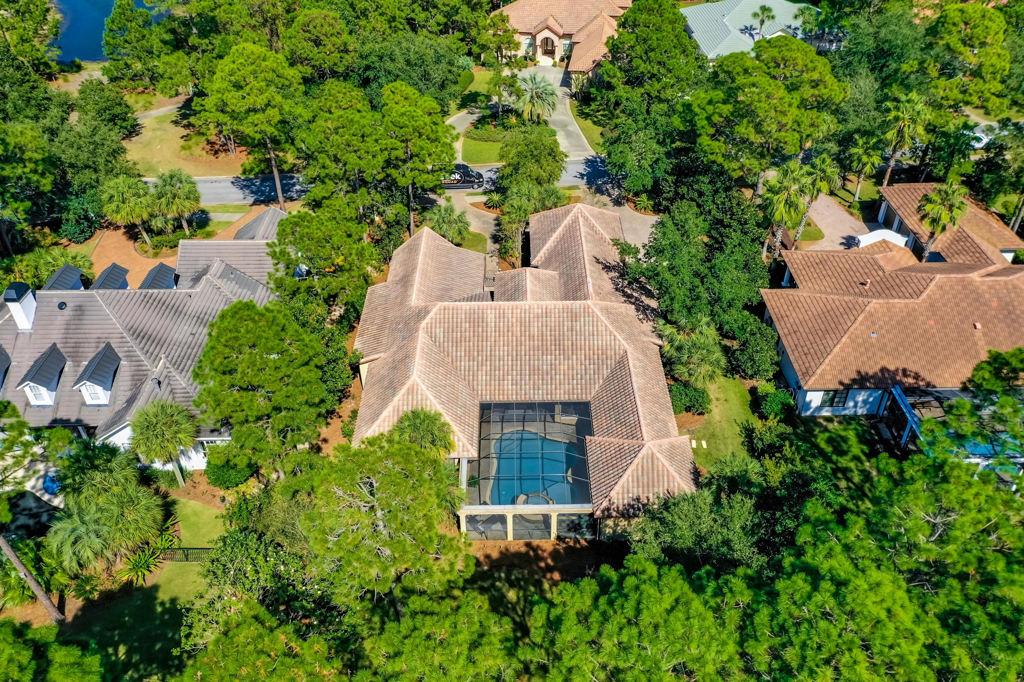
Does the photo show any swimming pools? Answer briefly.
Yes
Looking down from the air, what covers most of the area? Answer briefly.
trees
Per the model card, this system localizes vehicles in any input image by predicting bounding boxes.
[954,131,994,148]
[435,161,485,189]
